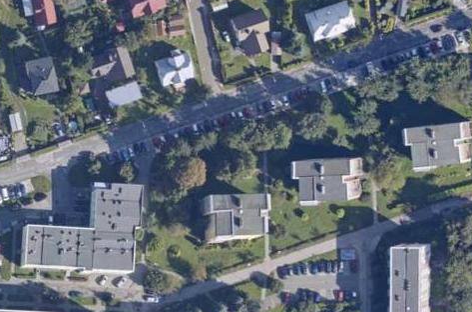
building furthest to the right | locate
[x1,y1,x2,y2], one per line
[405,123,466,175]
